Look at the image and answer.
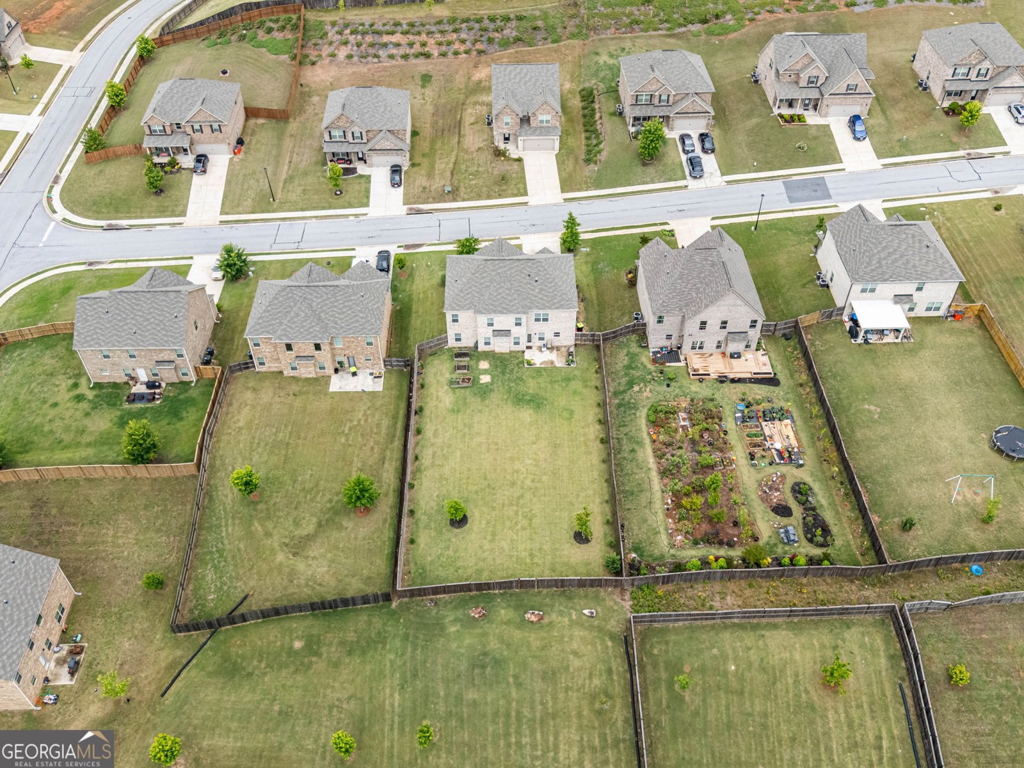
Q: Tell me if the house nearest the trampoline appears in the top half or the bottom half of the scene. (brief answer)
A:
top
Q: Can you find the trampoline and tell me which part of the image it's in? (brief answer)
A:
right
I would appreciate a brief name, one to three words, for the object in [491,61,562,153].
house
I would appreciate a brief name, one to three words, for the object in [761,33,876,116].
house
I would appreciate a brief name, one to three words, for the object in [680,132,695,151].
car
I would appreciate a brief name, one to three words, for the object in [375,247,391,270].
car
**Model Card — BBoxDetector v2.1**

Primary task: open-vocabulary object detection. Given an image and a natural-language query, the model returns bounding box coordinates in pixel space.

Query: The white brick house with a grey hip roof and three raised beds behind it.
[444,237,578,350]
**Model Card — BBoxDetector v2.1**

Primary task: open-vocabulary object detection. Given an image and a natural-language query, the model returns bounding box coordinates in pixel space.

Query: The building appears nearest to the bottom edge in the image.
[0,550,82,707]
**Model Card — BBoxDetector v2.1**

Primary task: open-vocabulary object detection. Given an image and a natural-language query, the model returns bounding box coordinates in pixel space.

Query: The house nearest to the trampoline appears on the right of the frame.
[812,202,966,316]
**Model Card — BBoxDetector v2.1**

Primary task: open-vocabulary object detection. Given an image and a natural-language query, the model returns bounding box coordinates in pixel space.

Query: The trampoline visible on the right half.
[992,428,1024,462]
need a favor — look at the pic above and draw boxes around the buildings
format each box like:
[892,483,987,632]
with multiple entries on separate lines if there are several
[141,80,249,161]
[444,237,578,350]
[0,550,82,707]
[812,202,966,316]
[72,265,225,385]
[0,8,26,58]
[761,33,876,116]
[624,51,716,131]
[322,86,414,168]
[491,61,562,153]
[923,26,1024,104]
[634,224,766,350]
[244,259,392,376]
